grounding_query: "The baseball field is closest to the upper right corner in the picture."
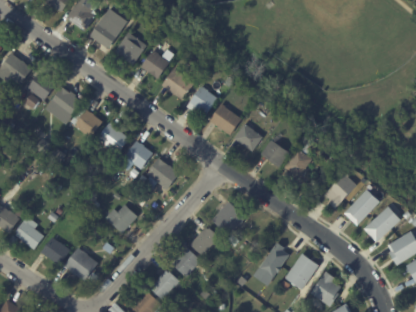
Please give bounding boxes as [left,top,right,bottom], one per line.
[246,0,416,92]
